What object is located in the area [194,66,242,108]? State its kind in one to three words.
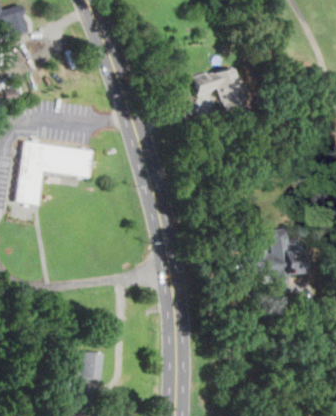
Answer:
house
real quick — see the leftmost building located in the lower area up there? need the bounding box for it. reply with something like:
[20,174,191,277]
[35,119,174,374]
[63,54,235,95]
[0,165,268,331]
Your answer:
[82,352,105,380]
